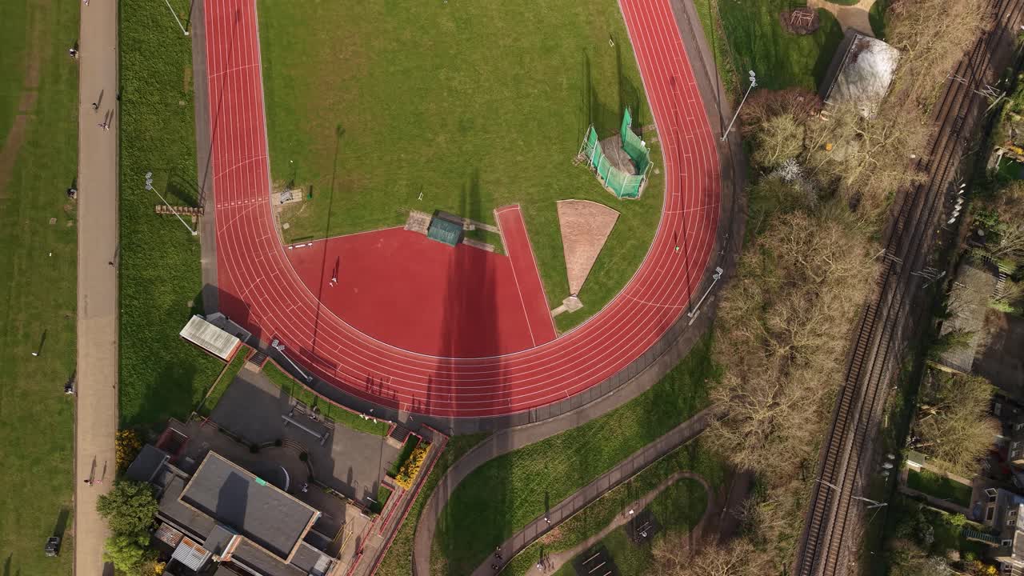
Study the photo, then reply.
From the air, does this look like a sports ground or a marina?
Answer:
sports ground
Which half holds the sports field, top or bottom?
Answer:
top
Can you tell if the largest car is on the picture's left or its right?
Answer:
left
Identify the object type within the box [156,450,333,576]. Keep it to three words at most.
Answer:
building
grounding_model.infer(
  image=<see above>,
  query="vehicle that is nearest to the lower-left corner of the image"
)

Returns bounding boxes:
[41,535,61,560]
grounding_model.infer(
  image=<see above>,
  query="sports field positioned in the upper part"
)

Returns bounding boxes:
[256,0,665,336]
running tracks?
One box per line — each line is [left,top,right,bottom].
[205,0,721,417]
